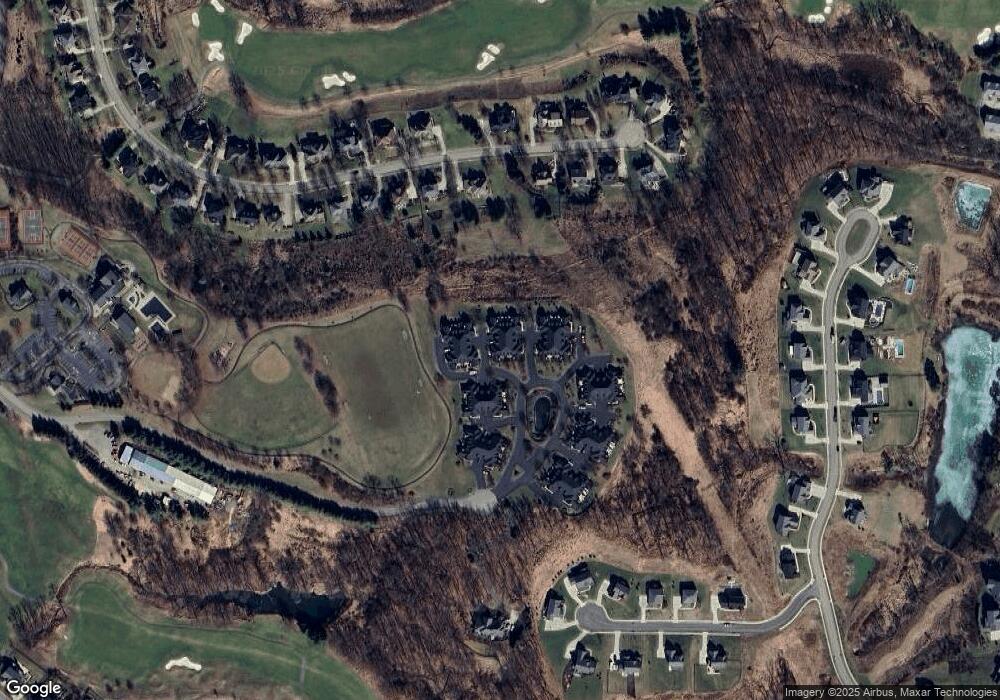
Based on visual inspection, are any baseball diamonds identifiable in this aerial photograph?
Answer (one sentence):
Yes, there's a baseball diamond here.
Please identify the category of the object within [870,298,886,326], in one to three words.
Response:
swimming pool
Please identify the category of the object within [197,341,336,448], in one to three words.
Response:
baseball field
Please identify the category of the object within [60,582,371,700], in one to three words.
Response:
golf course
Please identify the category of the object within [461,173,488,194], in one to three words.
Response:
house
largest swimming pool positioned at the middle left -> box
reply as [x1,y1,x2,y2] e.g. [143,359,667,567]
[137,292,176,324]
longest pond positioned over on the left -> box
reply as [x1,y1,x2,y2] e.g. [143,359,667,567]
[171,585,349,642]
